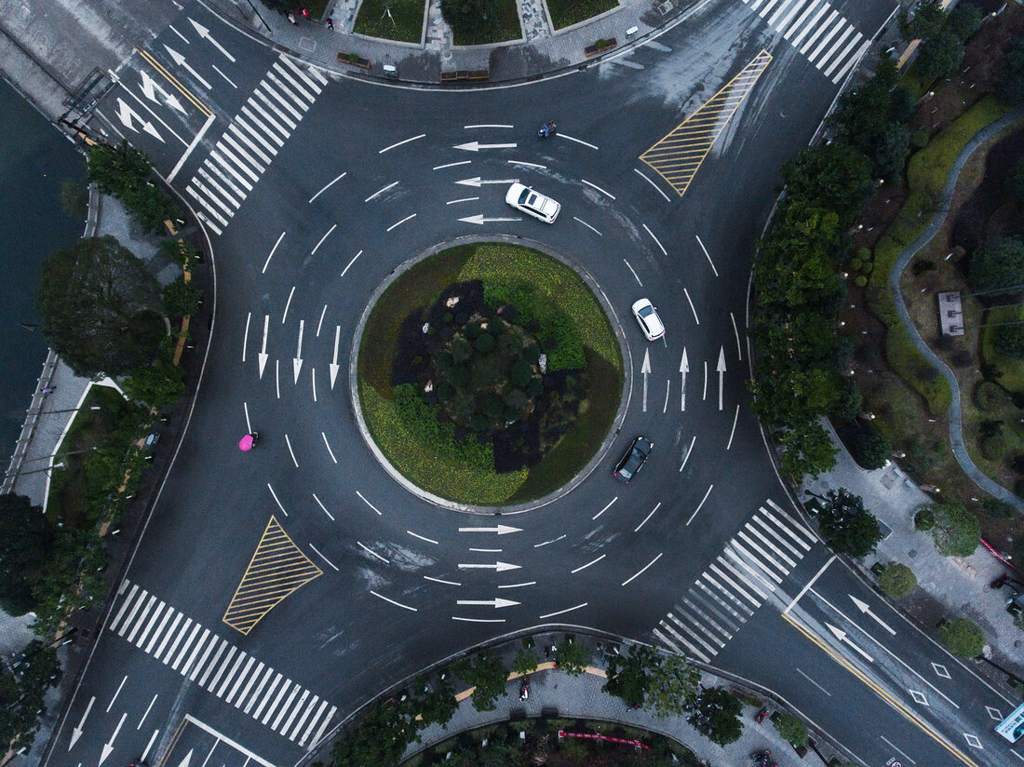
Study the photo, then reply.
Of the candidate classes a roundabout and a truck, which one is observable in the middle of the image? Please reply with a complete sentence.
Looking in the middle of the image, you will find a roundabout.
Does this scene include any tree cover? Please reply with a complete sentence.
Yes, there is tree cover in the image.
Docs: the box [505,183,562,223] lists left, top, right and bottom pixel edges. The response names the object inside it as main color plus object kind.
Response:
white car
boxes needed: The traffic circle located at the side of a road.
[232,116,751,631]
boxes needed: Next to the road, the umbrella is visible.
[239,433,254,452]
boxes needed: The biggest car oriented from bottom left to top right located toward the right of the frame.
[613,435,654,485]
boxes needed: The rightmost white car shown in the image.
[633,296,666,343]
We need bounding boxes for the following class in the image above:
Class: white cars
[505,183,562,223]
[633,296,666,343]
